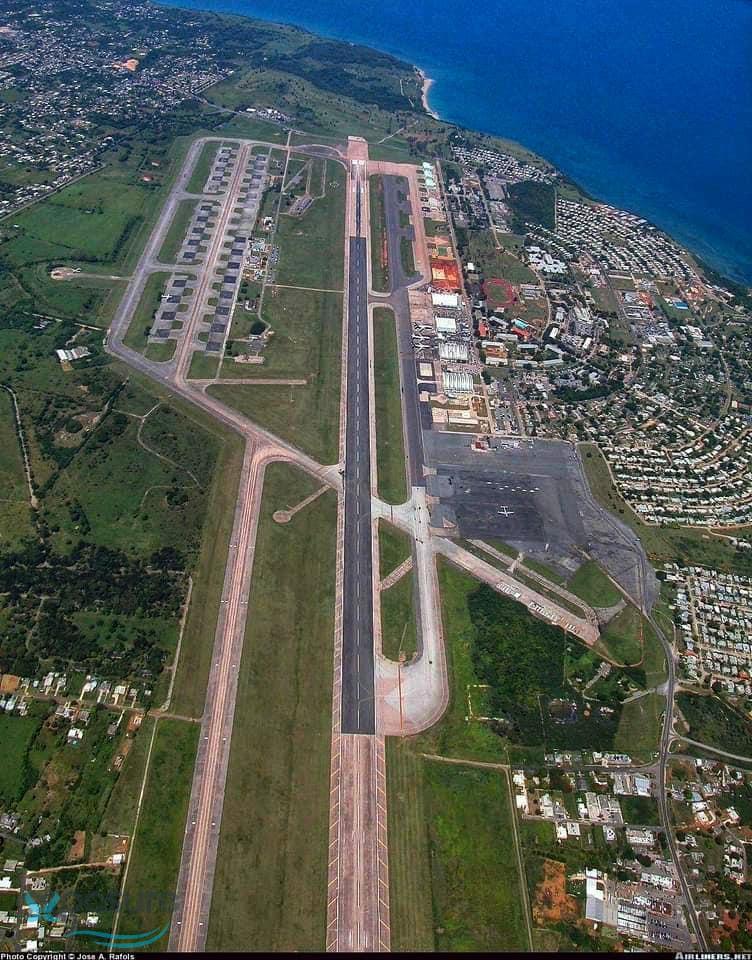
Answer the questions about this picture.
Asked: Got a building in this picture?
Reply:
Yes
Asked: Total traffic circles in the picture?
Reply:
0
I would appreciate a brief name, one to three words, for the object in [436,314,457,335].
hangar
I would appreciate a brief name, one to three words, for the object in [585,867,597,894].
building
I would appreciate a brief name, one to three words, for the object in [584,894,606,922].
building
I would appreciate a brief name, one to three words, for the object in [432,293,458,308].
hangar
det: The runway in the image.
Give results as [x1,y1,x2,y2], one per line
[327,160,391,960]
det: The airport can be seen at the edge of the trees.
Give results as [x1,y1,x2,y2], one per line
[51,136,661,960]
